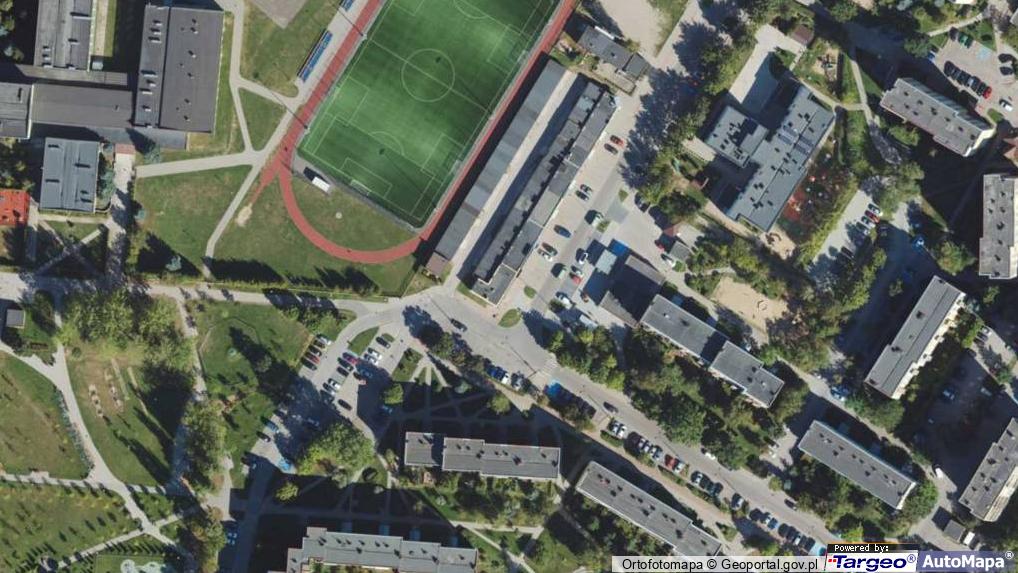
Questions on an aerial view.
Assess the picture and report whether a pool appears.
No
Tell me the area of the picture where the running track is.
top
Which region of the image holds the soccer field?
top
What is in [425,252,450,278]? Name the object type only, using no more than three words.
shed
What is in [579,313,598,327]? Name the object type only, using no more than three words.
vehicle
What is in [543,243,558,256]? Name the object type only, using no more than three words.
vehicle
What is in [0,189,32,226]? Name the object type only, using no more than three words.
house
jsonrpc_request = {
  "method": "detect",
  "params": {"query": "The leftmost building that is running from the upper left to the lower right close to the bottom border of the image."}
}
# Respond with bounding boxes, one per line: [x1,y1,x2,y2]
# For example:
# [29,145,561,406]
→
[577,461,728,573]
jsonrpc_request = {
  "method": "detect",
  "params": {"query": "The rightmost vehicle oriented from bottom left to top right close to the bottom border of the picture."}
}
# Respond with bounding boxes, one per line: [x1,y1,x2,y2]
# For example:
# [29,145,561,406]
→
[962,529,976,547]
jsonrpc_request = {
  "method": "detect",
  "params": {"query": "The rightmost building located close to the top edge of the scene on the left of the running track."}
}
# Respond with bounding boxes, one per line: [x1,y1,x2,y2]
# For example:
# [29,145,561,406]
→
[135,5,228,133]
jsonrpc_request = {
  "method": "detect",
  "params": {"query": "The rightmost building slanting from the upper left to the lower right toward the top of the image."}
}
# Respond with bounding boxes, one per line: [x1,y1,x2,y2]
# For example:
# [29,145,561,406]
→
[881,76,988,158]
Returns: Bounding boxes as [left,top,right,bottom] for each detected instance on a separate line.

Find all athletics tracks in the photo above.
[251,0,578,263]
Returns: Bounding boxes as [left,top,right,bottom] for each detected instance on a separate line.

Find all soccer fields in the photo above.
[299,0,561,225]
